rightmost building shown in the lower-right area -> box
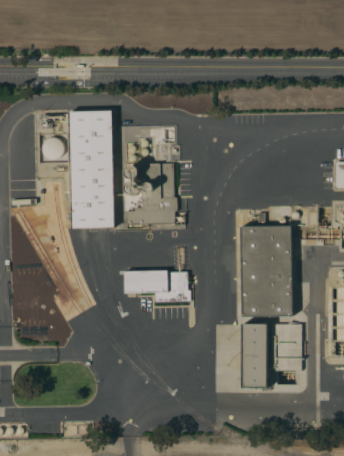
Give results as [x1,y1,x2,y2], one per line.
[274,324,306,370]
